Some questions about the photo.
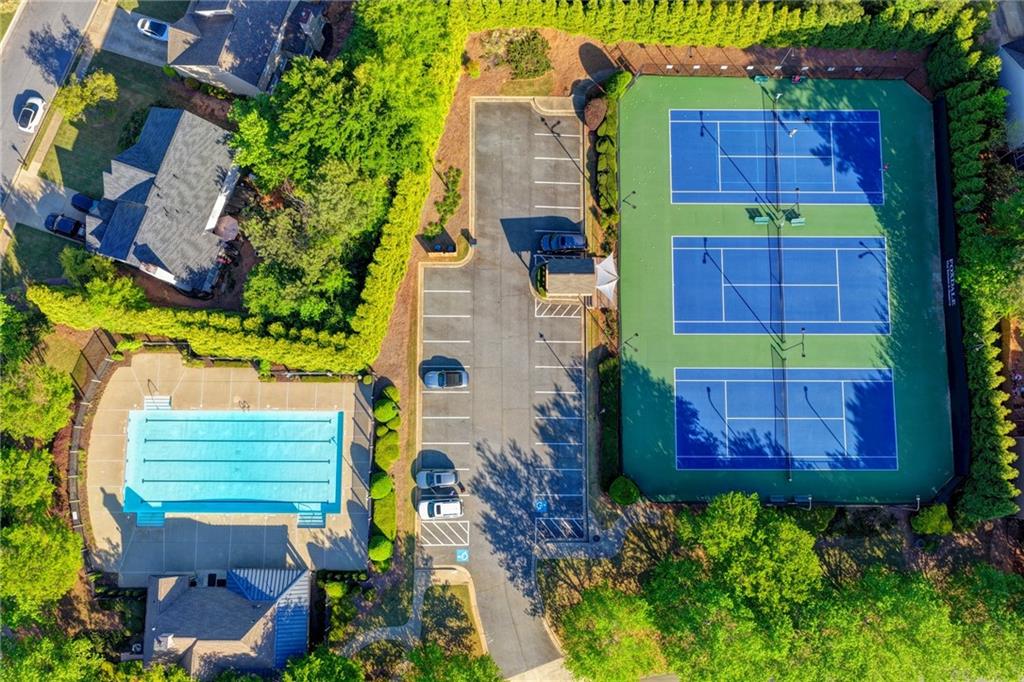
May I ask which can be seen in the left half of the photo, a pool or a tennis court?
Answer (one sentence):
What appears in the left half of the photo is a pool.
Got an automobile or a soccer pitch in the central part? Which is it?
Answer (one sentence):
You can see an automobile in the central part.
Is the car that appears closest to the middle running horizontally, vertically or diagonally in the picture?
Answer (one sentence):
In this picture, the car that appears closest to the middle lies horizontally.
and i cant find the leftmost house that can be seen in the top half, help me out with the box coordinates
[86,107,240,286]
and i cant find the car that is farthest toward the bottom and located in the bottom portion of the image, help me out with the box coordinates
[419,500,463,523]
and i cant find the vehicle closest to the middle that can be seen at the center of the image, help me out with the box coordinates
[424,369,468,389]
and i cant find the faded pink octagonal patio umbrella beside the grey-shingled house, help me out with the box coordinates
[217,217,240,240]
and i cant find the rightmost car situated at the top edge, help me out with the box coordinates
[133,15,171,41]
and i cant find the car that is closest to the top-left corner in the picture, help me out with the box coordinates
[14,93,43,133]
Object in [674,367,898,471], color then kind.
blue tennis court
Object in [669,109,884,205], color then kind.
blue tennis court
